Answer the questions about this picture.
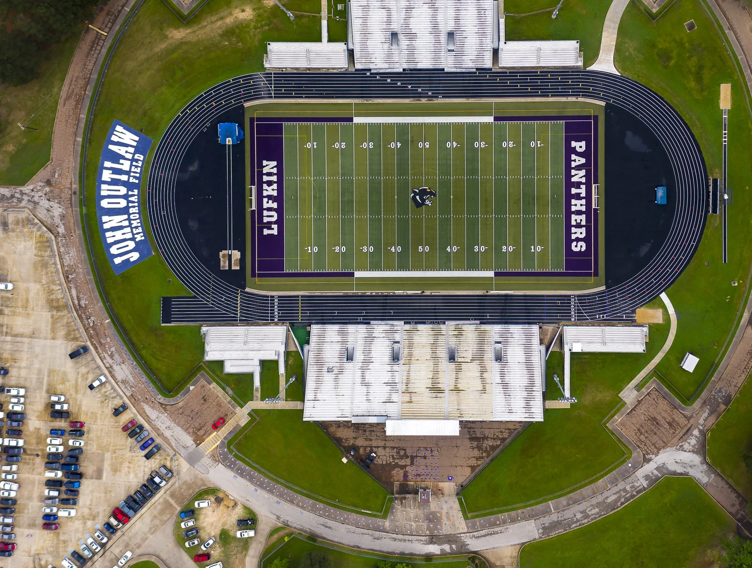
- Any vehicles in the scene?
Yes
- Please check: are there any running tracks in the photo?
Yes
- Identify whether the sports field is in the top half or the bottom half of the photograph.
top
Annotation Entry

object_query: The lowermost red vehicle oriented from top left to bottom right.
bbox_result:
[112,507,129,523]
